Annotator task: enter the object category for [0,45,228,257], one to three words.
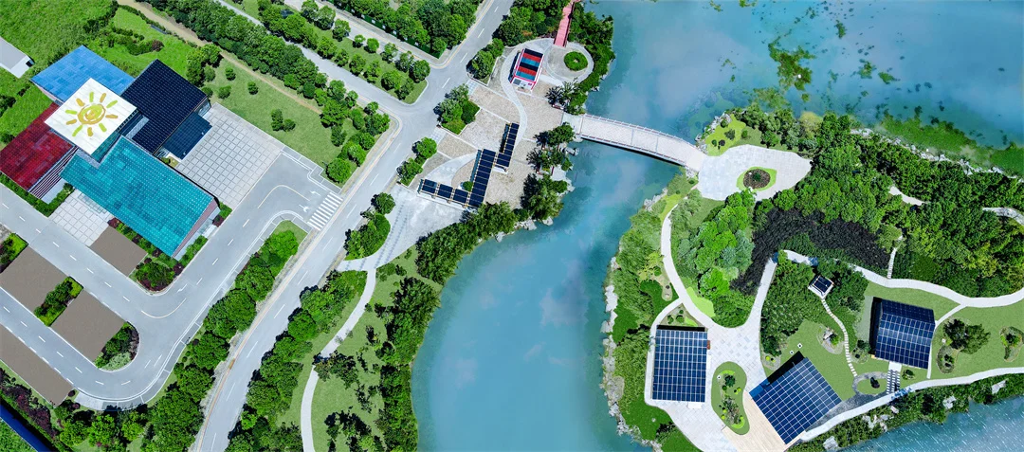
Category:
building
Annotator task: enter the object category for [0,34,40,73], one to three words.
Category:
shed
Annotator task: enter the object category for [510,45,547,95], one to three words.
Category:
house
